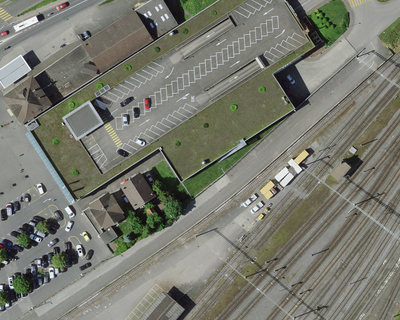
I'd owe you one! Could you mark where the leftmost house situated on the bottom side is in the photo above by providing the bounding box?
[89,192,123,244]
